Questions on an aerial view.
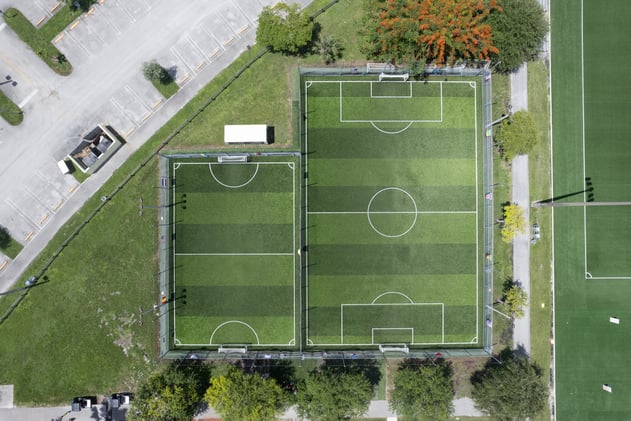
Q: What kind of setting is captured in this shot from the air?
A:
sports ground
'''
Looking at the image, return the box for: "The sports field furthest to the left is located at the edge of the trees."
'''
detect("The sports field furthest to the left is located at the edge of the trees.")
[169,157,300,350]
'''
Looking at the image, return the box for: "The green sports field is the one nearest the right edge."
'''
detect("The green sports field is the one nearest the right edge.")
[550,0,631,421]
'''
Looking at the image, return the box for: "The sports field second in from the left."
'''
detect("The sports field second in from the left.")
[300,76,483,351]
